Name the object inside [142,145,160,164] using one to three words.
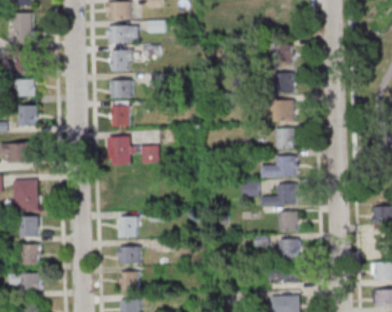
building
